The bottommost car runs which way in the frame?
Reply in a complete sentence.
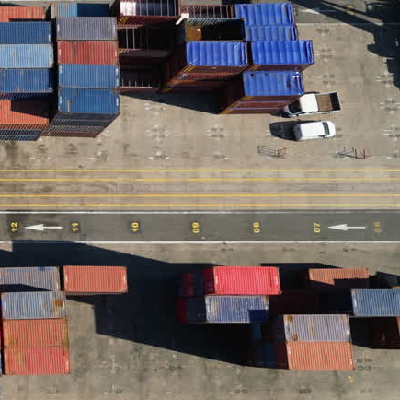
I'd say the bottommost car is aligned from left to right in the picture.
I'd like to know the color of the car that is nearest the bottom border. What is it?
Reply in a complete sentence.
The color of the car that is nearest the bottom border is white.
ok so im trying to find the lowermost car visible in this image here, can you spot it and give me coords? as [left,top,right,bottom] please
[293,121,333,141]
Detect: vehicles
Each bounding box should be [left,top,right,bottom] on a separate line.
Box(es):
[283,92,341,118]
[293,121,333,141]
